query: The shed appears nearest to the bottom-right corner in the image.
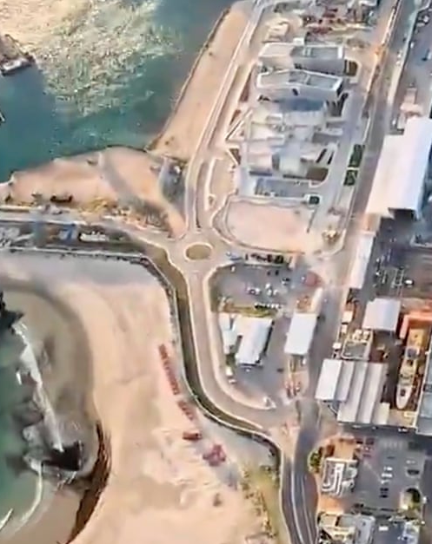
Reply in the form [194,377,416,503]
[402,520,421,544]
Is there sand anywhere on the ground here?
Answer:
Yes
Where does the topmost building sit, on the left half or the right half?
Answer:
right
